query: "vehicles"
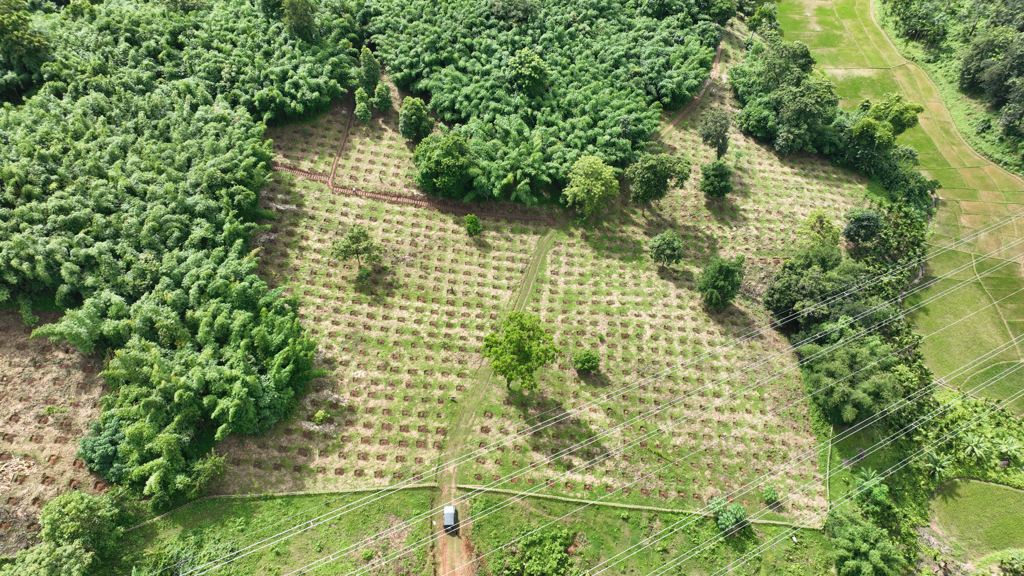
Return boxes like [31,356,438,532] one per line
[443,507,457,533]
